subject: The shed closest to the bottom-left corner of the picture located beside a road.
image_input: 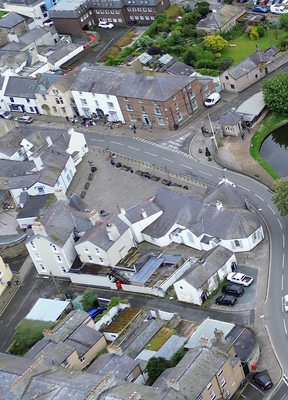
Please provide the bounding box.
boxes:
[26,301,69,329]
